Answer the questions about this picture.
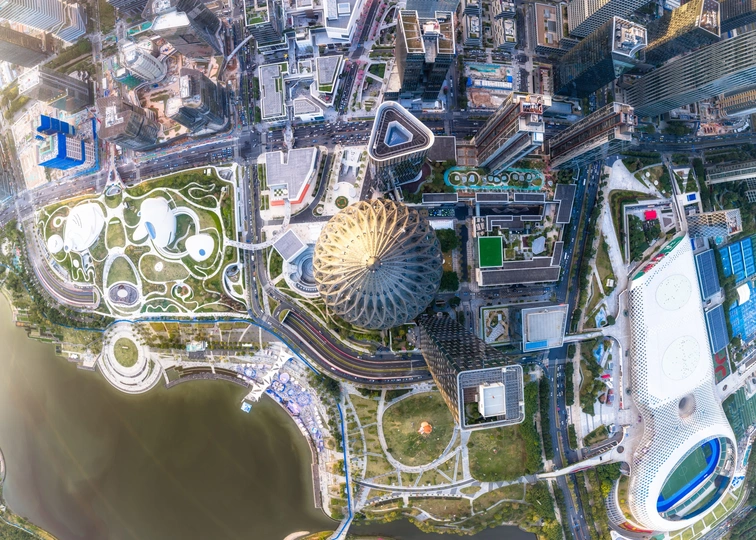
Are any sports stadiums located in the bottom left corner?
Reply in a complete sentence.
No, no sports stadium can be made out in the bottom left corner.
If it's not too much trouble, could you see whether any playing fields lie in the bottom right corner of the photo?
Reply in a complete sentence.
Yes, a playing field shows up in the bottom right corner of the photo.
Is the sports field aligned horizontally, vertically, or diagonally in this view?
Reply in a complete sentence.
The sports field runs diagonally in the image.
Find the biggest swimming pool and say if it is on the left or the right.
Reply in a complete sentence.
The biggest swimming pool is on the right side of the image.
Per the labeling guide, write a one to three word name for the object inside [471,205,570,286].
building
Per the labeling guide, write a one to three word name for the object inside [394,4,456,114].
building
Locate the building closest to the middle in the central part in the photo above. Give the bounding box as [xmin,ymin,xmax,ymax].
[313,205,441,332]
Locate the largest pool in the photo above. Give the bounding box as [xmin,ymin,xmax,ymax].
[443,165,546,192]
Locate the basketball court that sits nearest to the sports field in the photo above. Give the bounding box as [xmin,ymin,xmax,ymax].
[713,346,733,386]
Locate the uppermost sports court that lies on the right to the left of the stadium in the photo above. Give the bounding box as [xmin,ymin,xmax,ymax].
[481,238,502,267]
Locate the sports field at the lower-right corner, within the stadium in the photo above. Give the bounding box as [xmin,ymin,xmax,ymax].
[663,447,718,502]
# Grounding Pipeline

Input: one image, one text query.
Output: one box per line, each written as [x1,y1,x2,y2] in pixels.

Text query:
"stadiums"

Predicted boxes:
[608,235,741,538]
